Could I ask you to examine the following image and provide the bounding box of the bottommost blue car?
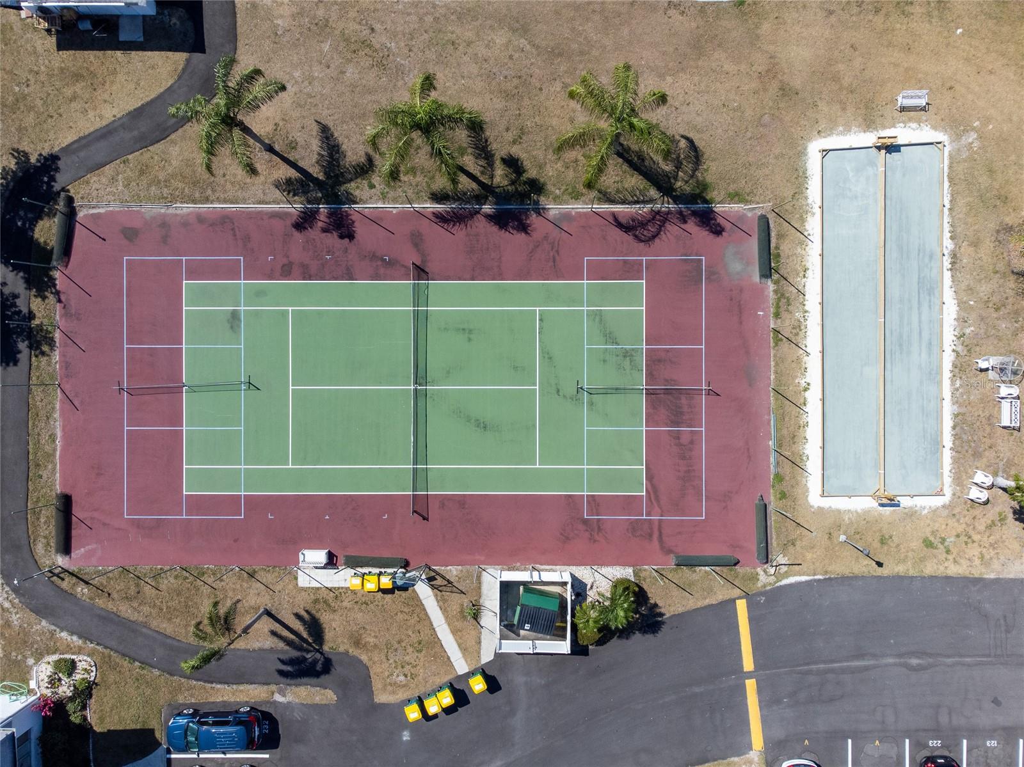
[168,706,264,760]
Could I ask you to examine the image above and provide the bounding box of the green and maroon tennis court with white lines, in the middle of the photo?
[57,208,771,567]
